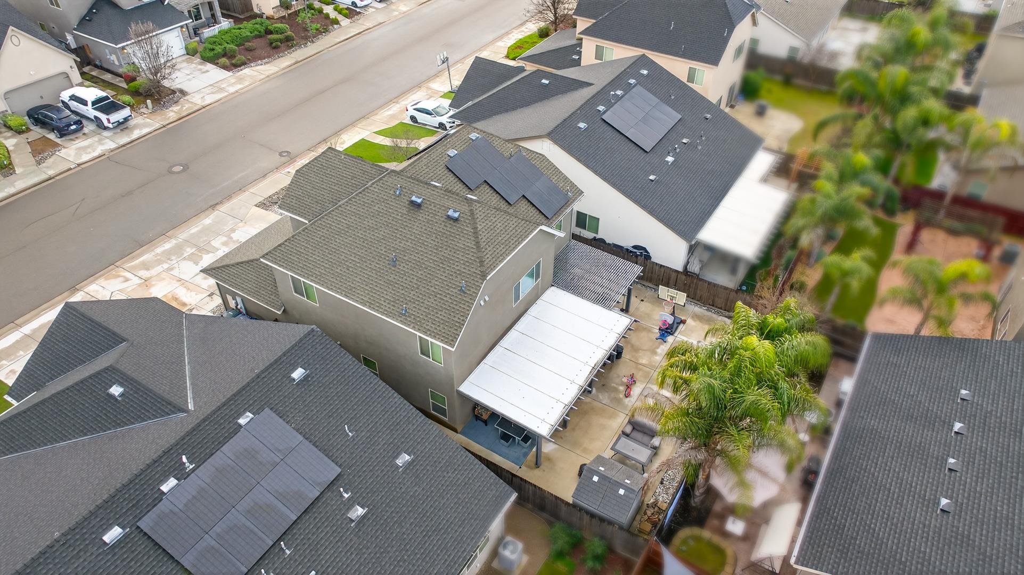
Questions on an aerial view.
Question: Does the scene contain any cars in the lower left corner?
No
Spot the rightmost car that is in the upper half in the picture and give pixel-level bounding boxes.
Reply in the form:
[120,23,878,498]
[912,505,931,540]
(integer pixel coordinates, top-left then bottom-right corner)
[405,99,453,130]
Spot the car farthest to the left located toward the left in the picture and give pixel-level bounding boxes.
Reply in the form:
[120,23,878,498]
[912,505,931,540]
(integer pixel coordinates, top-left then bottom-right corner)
[25,104,82,136]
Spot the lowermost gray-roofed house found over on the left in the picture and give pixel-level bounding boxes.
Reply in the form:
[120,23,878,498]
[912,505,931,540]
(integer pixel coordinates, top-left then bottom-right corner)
[0,298,519,575]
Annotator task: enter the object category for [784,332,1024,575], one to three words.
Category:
house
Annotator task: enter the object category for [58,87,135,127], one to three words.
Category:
truck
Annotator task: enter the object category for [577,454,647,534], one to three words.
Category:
shed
